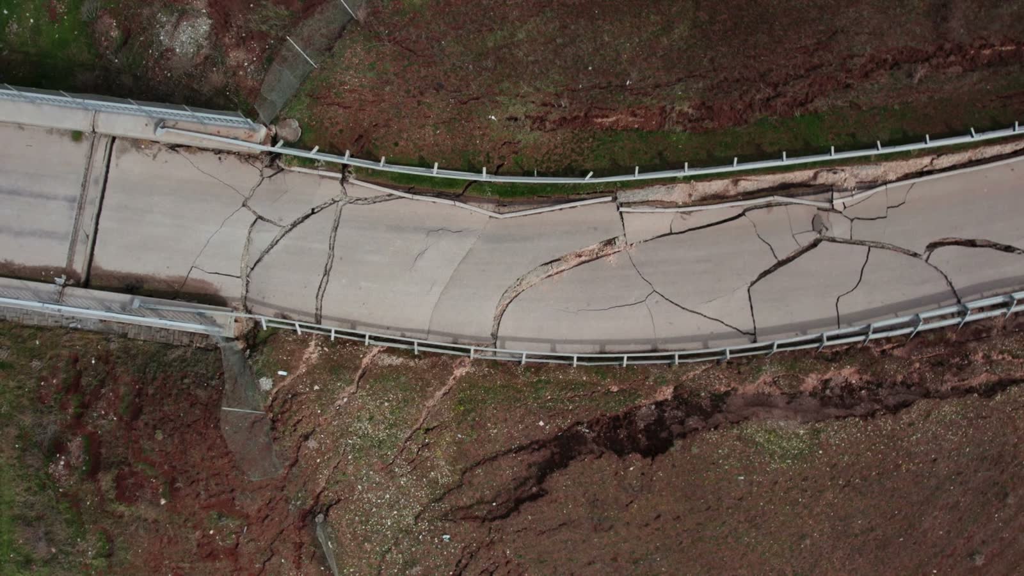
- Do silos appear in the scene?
No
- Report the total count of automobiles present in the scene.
0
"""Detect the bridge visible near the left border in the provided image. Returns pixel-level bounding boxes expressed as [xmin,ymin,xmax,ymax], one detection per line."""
[0,96,279,337]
